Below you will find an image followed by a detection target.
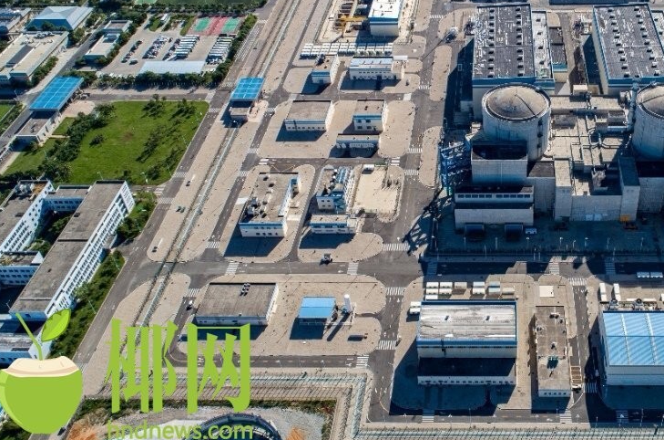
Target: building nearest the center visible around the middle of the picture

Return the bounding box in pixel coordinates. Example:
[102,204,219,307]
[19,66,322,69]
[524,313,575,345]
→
[310,215,351,233]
